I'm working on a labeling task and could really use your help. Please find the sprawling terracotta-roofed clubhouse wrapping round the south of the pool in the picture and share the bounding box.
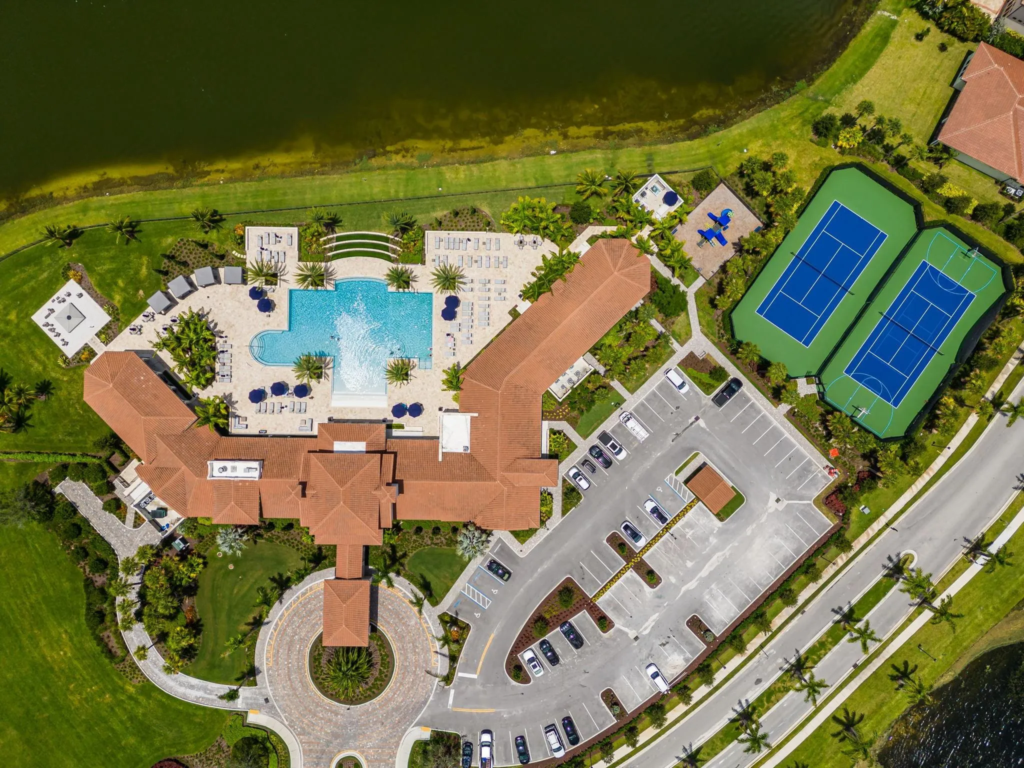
[83,238,651,647]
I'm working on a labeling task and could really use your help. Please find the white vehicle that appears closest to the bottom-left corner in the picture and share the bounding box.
[479,730,494,767]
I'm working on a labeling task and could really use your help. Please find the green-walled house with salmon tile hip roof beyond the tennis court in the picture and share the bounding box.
[930,42,1024,193]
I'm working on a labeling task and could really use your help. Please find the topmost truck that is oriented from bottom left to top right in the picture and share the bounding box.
[711,377,743,409]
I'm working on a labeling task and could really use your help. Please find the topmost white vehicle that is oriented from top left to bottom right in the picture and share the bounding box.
[662,367,690,395]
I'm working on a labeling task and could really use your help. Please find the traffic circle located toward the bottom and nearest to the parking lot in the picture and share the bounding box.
[264,575,440,768]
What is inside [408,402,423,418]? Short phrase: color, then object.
blue umbrella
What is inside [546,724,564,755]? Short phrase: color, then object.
white car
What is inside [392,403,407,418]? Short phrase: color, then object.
blue umbrella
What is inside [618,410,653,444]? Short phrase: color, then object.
white van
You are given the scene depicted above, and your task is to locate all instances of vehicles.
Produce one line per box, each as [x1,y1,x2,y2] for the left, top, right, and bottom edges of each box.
[562,715,579,744]
[461,741,474,768]
[618,410,653,444]
[539,638,561,668]
[524,648,544,677]
[643,499,669,526]
[587,444,614,470]
[567,465,593,492]
[487,557,513,583]
[514,733,530,763]
[581,460,596,474]
[645,662,672,695]
[561,621,583,650]
[662,367,690,395]
[596,430,628,461]
[479,730,494,767]
[711,377,743,409]
[620,520,644,547]
[546,724,564,755]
